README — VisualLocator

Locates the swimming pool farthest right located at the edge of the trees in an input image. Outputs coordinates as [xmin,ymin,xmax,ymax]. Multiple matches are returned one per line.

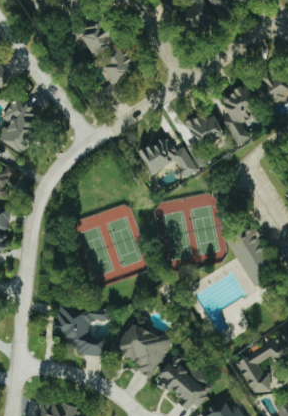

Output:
[274,102,288,116]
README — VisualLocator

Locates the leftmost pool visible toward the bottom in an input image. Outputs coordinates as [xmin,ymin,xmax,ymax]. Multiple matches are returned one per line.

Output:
[90,324,109,338]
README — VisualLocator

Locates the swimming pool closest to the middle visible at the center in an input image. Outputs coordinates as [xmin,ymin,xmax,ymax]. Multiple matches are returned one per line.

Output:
[158,168,180,186]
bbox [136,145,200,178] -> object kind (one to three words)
house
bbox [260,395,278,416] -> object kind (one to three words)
swimming pool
